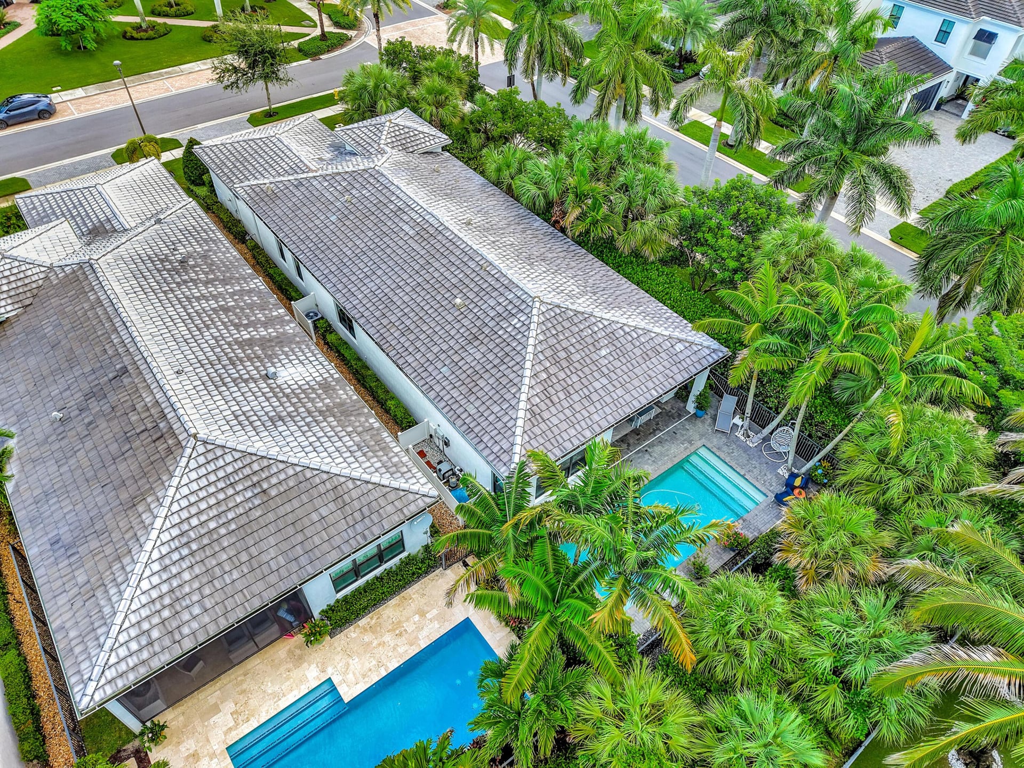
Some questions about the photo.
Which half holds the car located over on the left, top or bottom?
top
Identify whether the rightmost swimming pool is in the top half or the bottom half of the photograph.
bottom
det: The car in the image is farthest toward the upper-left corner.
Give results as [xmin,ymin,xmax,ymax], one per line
[0,91,56,130]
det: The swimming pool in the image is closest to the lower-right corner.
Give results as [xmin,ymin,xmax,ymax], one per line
[555,444,769,620]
